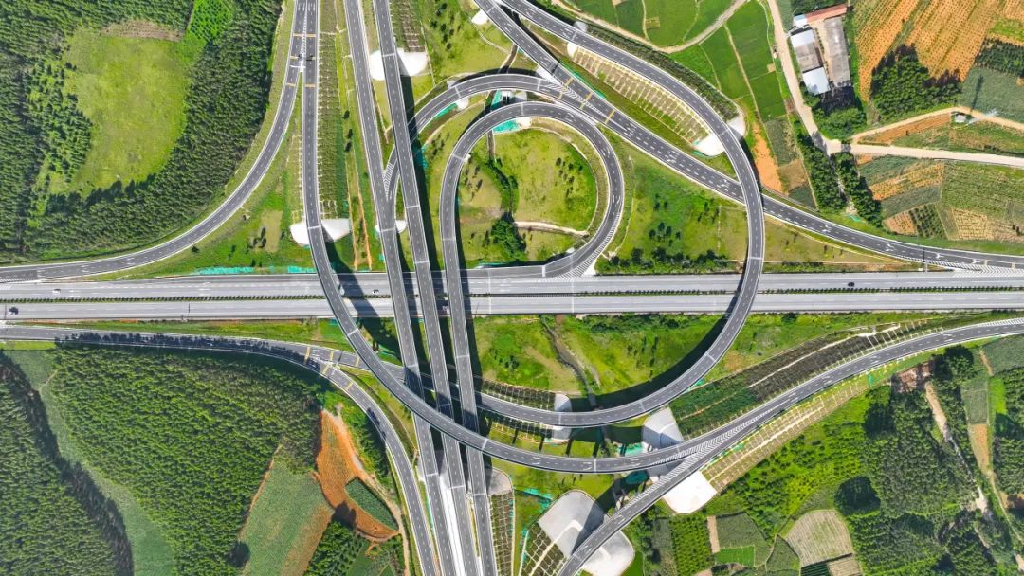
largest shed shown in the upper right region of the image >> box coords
[823,17,850,86]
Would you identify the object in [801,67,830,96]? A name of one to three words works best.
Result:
shed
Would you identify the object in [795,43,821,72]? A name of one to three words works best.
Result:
shed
